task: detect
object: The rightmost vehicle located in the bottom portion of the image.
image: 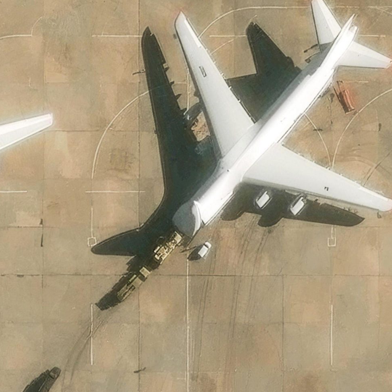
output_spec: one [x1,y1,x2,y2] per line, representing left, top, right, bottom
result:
[195,241,213,261]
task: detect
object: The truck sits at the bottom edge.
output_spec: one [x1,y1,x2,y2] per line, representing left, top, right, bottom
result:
[40,367,64,392]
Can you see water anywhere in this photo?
No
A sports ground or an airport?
airport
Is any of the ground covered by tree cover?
No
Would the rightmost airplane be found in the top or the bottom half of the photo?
top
